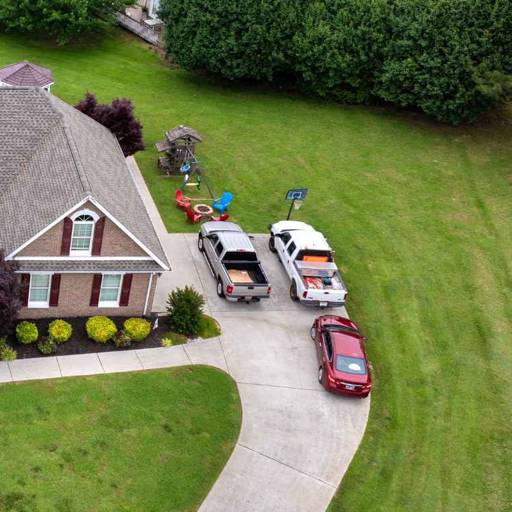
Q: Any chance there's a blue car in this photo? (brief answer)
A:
No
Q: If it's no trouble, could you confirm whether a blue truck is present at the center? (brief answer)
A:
No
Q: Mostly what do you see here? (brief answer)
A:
grass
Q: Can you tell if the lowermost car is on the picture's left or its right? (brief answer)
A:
right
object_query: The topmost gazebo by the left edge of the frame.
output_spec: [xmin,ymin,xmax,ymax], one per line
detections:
[0,57,54,93]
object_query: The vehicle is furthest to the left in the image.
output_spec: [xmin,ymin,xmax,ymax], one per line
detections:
[196,220,274,305]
